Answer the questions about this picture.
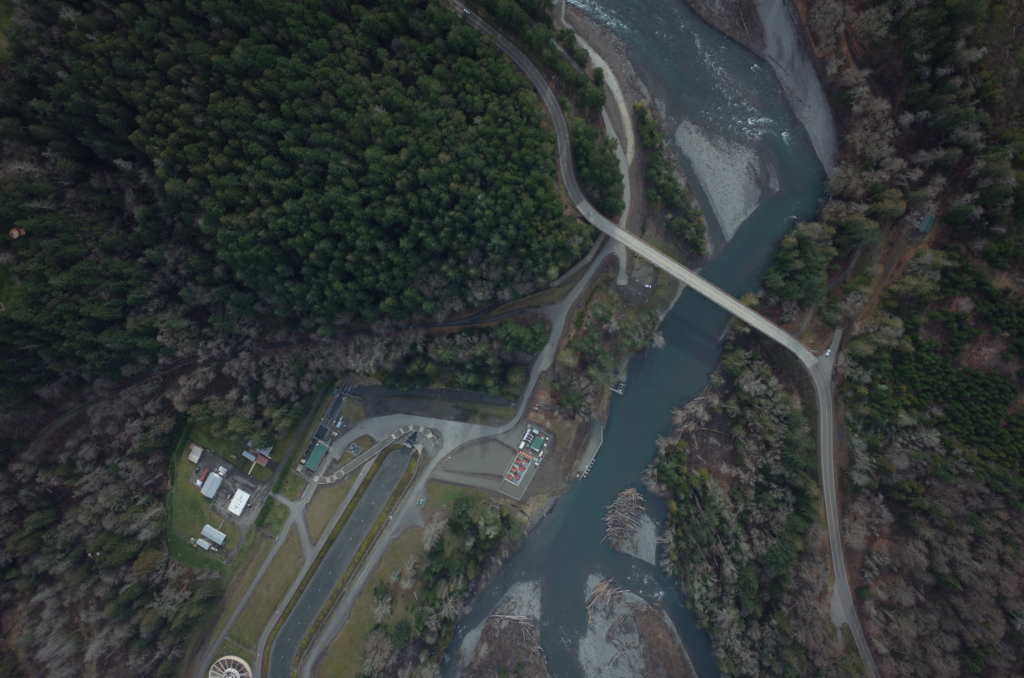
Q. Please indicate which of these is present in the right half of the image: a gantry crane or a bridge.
bridge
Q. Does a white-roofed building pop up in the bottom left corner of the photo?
Yes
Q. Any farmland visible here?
No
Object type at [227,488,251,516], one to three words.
building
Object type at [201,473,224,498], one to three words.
building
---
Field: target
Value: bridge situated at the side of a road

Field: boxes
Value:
[575,197,819,371]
